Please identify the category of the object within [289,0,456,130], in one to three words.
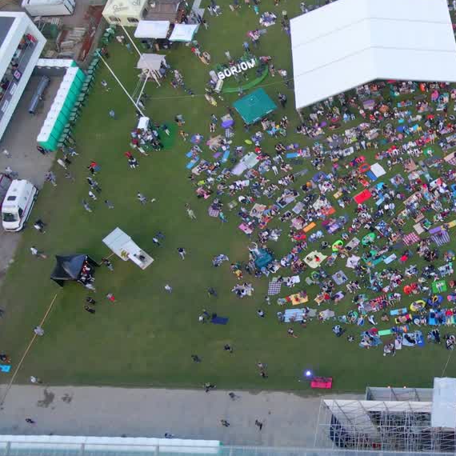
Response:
tent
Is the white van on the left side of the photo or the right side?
left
